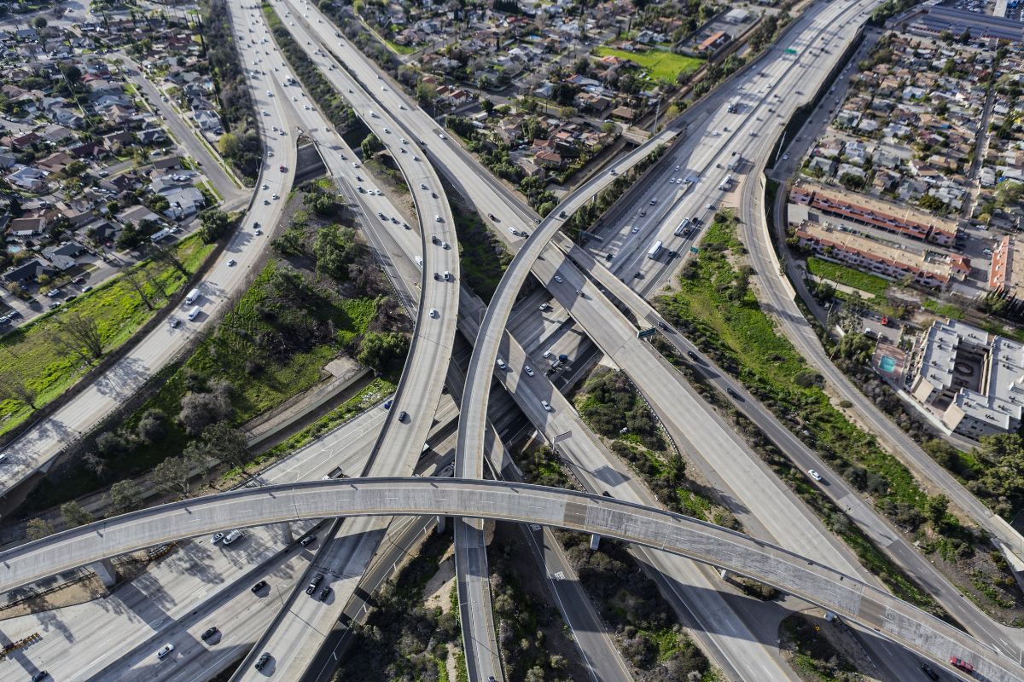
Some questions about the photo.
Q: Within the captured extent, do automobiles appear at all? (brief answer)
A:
Yes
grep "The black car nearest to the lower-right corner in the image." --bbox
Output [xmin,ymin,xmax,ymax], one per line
[921,662,941,682]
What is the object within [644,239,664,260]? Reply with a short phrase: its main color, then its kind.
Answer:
white vehicle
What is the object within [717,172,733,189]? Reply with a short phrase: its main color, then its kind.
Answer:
white vehicle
